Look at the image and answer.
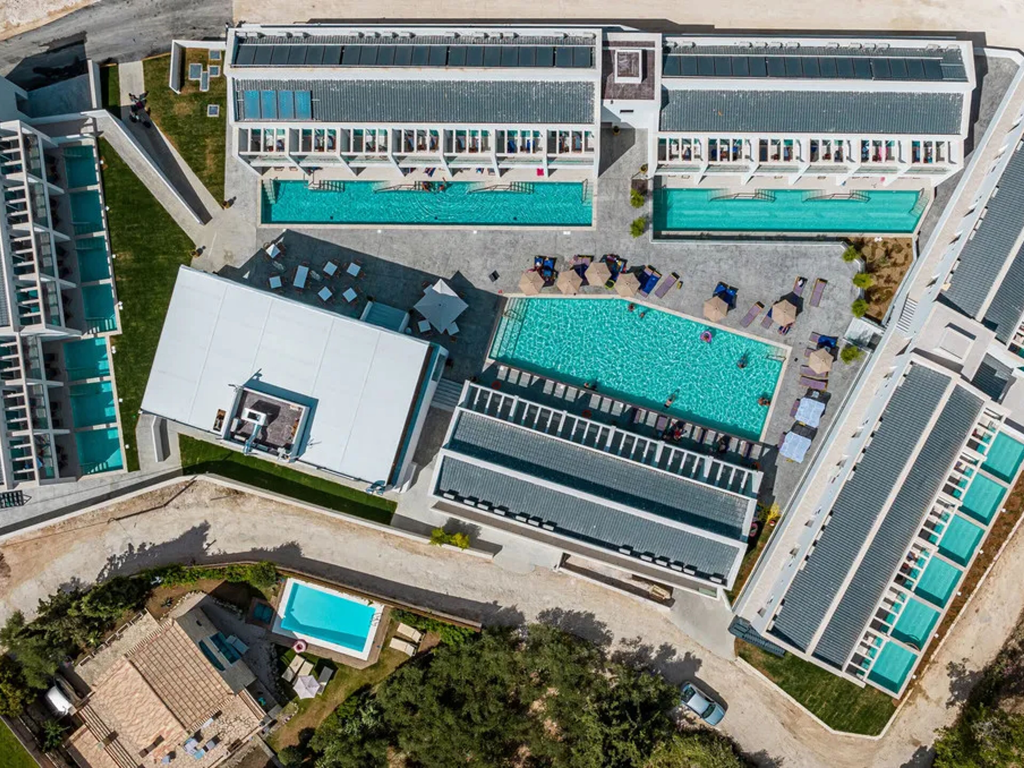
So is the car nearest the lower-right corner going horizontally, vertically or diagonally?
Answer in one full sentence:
I'd say the car nearest the lower-right corner is aligned diagonally in the picture.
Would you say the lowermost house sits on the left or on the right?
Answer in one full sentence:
The lowermost house is on the left side of the image.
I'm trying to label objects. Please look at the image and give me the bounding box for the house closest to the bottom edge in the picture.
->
[88,596,273,768]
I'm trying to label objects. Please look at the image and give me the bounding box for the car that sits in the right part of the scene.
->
[677,678,726,725]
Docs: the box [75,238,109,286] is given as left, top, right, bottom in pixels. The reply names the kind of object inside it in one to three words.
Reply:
swimming pool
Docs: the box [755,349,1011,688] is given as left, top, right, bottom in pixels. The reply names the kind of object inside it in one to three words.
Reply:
building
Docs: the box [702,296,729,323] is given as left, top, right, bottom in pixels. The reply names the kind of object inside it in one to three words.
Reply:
umbrella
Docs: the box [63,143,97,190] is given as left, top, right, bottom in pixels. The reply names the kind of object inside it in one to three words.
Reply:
swimming pool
